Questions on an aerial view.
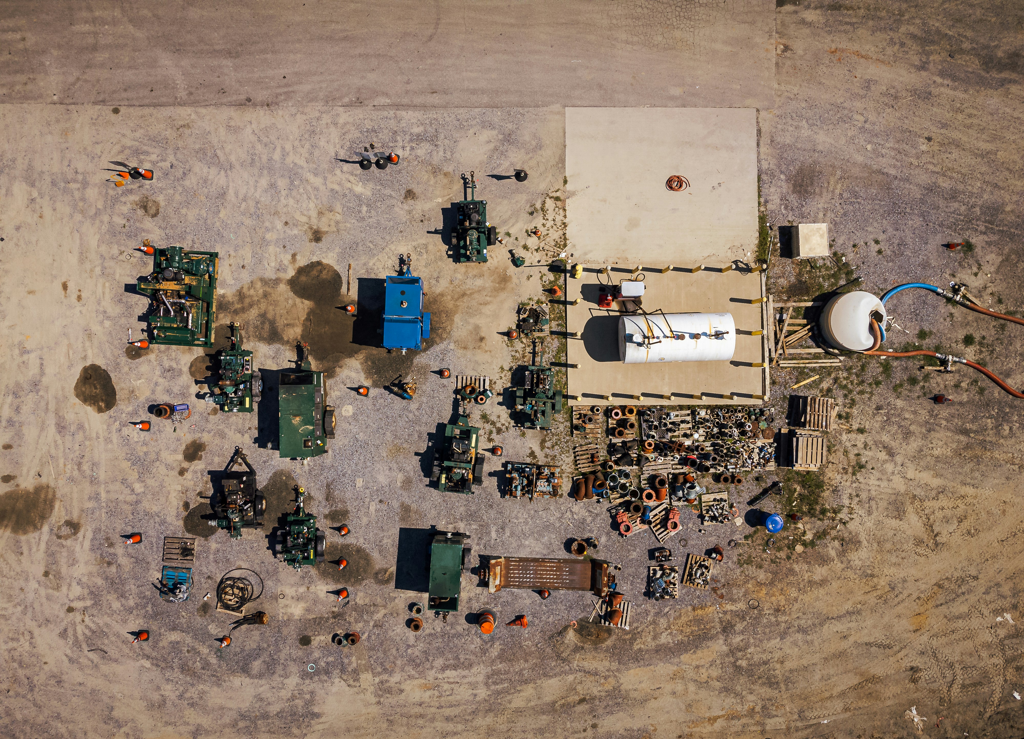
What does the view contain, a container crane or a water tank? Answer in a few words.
water tank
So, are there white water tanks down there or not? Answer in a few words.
Yes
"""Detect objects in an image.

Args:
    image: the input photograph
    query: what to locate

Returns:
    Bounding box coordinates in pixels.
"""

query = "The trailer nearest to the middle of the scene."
[512,338,562,431]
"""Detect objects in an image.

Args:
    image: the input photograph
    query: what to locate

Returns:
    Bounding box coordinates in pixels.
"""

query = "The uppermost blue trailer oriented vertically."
[380,253,430,355]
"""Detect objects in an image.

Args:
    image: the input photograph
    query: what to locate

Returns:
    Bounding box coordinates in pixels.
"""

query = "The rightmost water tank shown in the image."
[820,293,909,349]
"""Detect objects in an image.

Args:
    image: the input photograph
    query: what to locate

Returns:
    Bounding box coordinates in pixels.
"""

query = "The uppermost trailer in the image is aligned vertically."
[453,171,496,263]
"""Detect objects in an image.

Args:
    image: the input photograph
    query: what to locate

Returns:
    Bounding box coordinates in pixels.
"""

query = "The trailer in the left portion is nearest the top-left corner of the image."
[204,322,263,412]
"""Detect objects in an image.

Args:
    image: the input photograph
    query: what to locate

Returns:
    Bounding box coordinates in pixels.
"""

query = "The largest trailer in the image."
[267,342,335,466]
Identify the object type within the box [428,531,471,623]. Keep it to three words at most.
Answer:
trailer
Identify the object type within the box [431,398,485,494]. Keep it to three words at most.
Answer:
trailer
